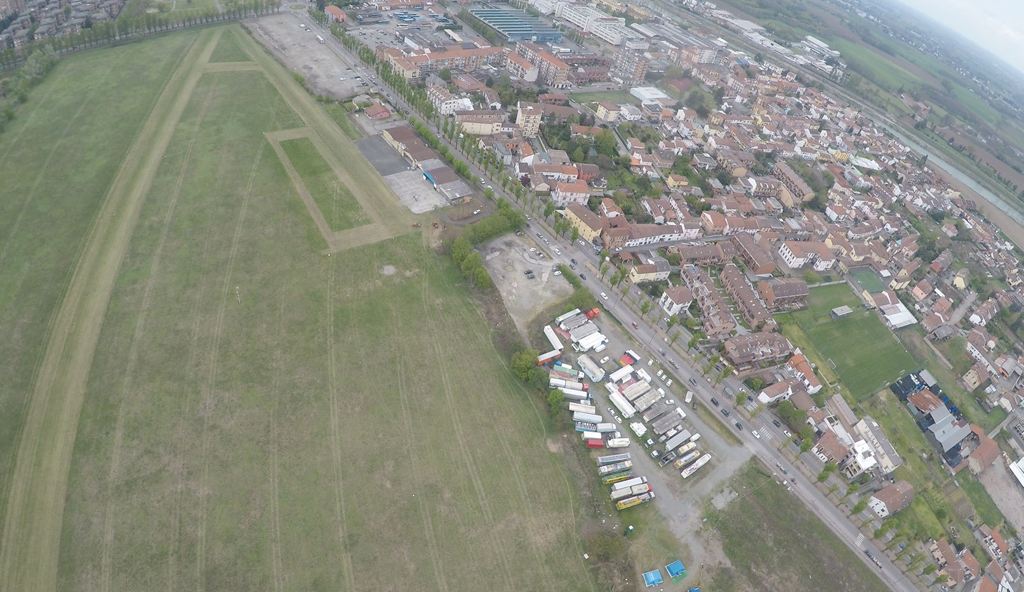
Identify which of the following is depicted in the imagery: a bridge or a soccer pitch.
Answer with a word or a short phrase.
soccer pitch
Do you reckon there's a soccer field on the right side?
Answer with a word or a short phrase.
Yes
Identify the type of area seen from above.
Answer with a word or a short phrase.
residential area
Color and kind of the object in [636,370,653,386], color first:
white camper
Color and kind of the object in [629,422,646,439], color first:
white camper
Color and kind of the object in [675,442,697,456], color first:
white vehicle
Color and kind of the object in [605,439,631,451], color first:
white vehicle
